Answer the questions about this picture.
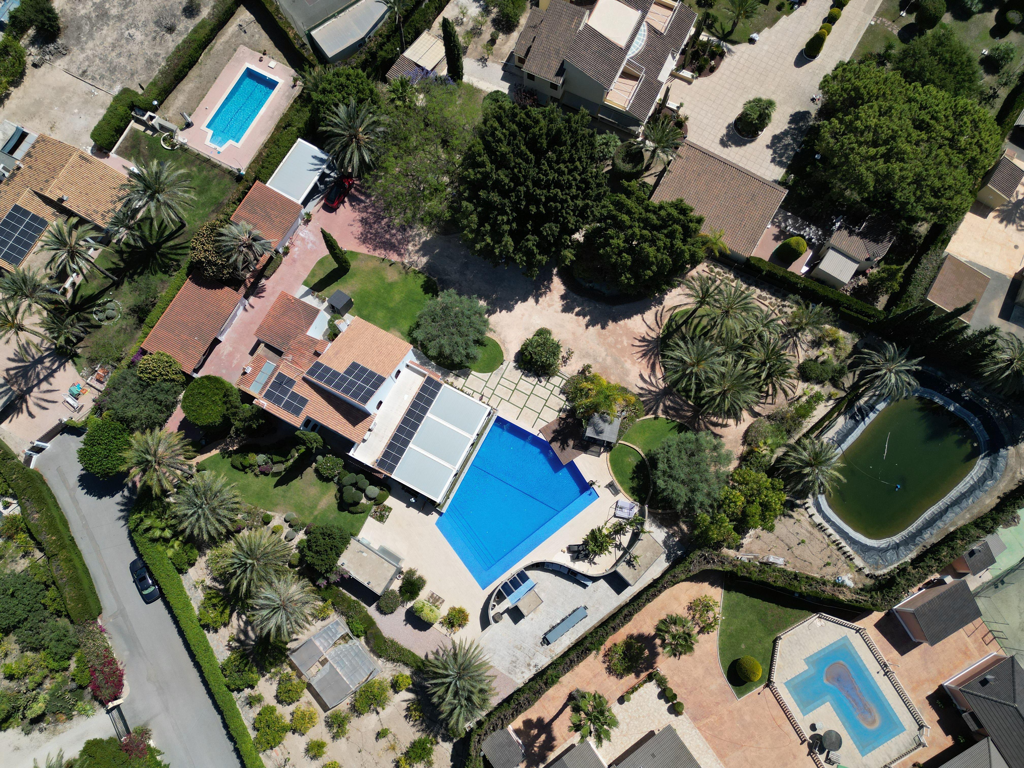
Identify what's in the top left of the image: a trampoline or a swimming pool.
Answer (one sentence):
The feature located in the top left of the image is a swimming pool.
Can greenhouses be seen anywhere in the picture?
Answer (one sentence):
Yes, there's a greenhouse here.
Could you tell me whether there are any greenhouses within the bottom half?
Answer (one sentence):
Yes, a greenhouse can be seen within the bottom half.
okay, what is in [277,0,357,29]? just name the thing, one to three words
tennis court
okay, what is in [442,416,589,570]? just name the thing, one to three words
swimming pool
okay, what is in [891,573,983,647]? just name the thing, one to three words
building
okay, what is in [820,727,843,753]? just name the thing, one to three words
umbrella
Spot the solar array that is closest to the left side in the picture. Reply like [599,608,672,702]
[0,204,47,265]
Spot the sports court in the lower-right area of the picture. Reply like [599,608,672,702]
[972,510,1024,664]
